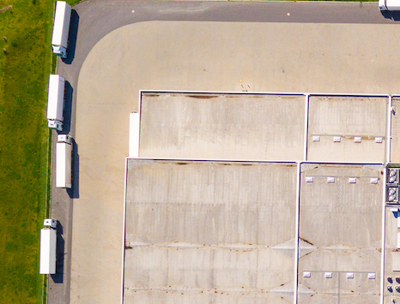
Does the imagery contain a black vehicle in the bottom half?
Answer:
No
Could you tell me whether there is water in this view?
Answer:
No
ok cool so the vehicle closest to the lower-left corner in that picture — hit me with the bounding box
[40,219,59,275]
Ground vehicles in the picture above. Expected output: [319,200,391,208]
[40,219,59,275]
[52,0,74,58]
[377,0,400,11]
[48,73,66,132]
[57,134,74,190]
